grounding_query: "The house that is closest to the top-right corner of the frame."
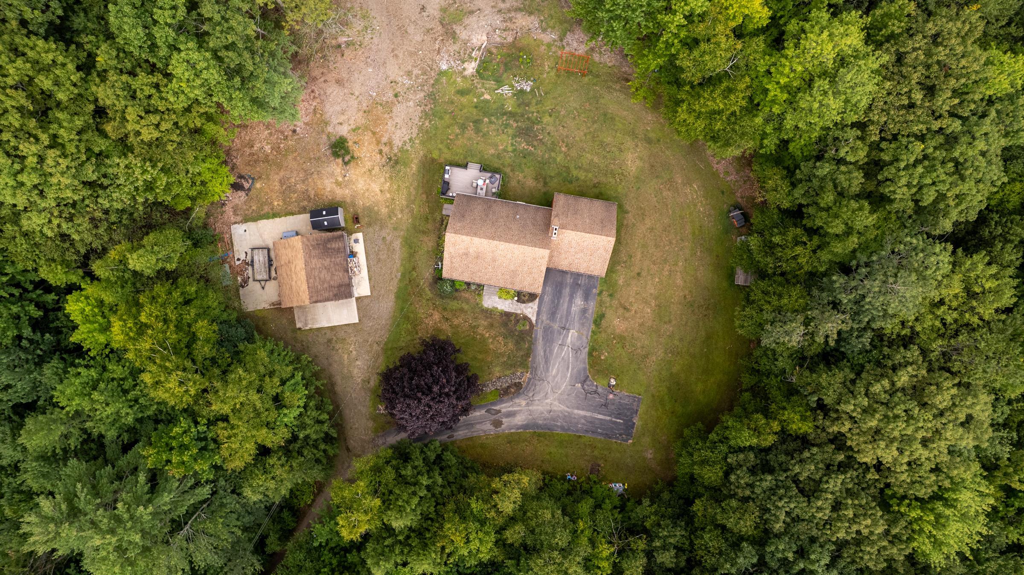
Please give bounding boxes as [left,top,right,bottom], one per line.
[442,191,617,296]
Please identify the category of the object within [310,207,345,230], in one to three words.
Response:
shed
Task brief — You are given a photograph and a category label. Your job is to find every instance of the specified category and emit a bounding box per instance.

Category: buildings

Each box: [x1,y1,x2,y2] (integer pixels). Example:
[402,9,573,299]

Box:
[273,232,356,307]
[310,207,345,230]
[442,191,617,296]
